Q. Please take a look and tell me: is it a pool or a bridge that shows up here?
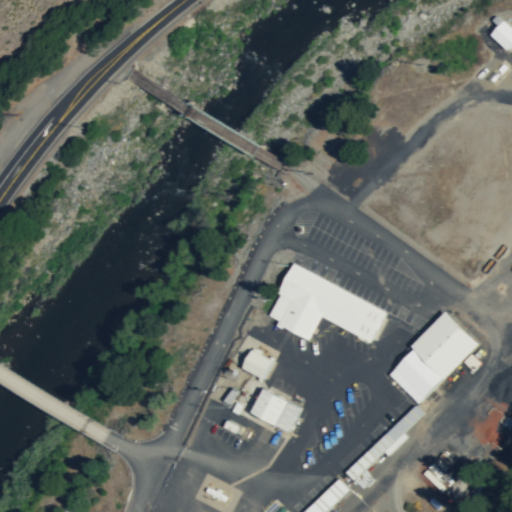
bridge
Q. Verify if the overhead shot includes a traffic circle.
No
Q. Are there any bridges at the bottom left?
Yes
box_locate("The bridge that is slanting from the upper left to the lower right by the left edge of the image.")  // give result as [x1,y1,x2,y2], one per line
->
[0,364,116,446]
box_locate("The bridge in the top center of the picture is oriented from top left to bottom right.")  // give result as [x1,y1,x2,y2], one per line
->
[129,68,284,173]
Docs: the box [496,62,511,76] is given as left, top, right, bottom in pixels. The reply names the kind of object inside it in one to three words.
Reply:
vehicle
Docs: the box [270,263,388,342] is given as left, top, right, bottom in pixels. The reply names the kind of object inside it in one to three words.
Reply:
building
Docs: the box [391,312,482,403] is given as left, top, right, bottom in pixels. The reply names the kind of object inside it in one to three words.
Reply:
building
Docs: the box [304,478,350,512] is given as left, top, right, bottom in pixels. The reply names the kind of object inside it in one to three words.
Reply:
shed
